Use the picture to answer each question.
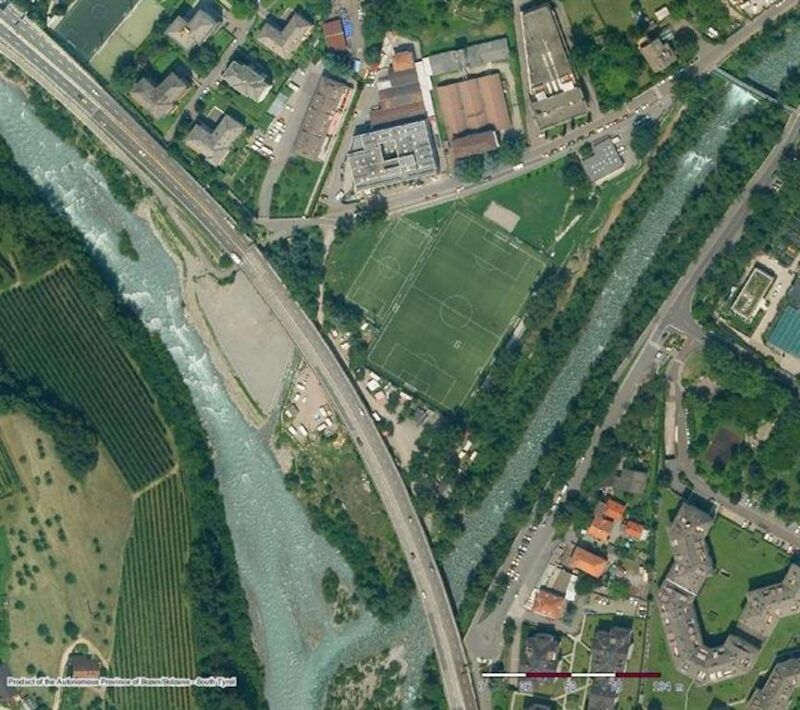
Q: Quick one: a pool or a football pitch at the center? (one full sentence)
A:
You can see a football pitch at the center.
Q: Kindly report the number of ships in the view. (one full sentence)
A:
Not a single ship can be seen.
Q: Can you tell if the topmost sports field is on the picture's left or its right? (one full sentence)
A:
The topmost sports field is on the left side of the image.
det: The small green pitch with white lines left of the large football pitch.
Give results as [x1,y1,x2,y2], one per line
[343,218,438,317]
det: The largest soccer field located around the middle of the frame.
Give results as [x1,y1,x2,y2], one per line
[364,207,550,414]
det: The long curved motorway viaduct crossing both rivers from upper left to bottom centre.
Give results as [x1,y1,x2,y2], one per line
[0,2,477,710]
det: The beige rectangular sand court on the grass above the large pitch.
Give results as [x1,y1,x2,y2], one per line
[484,202,520,232]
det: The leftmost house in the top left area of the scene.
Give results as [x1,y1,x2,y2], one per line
[129,73,187,120]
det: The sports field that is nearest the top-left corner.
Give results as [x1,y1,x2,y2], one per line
[94,0,164,78]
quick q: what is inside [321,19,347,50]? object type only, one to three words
shed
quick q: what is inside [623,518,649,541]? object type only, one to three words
house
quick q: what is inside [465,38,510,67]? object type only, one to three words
building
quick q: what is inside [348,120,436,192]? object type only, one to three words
building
